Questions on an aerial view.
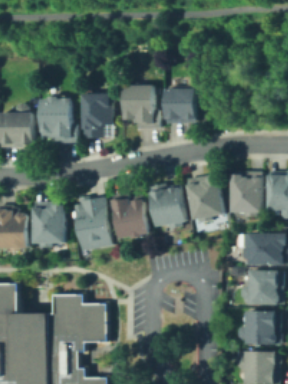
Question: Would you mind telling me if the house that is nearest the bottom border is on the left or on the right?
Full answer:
The house that is nearest the bottom border sits on the right side.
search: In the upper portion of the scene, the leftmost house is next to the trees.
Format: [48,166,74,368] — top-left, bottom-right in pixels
[0,112,33,148]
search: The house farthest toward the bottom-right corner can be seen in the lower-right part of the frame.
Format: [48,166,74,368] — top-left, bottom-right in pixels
[242,354,286,384]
